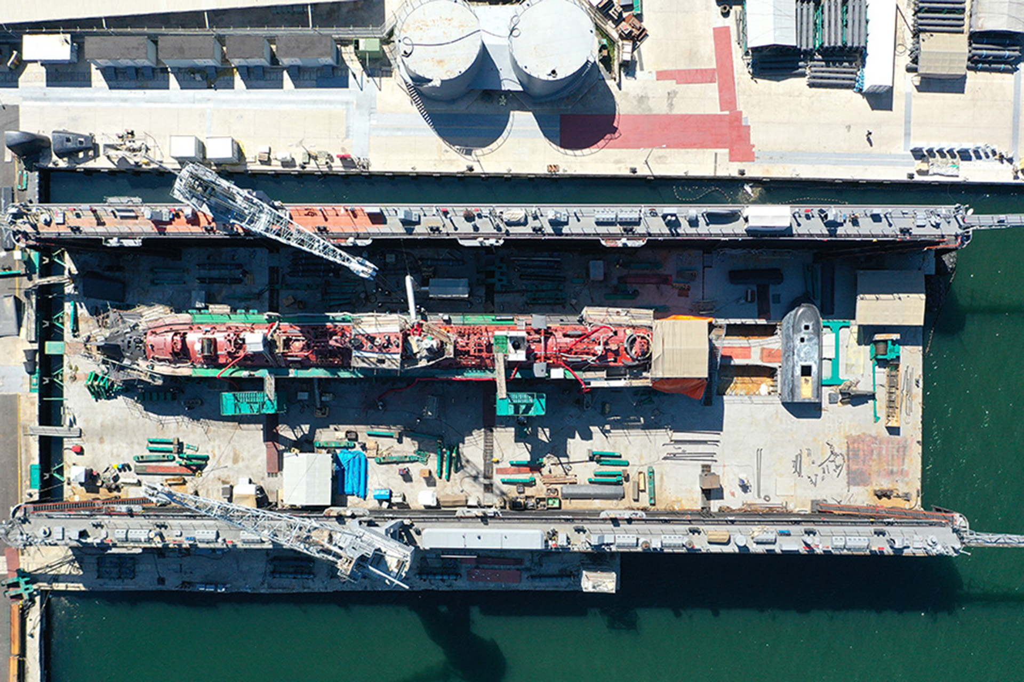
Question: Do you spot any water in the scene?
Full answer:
Yes, the picture does contain water.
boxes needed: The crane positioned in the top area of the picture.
[140,150,408,302]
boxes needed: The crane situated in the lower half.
[145,479,433,591]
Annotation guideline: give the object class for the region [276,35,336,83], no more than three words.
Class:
building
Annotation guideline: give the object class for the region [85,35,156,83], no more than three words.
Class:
building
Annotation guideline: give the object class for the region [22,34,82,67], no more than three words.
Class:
shed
